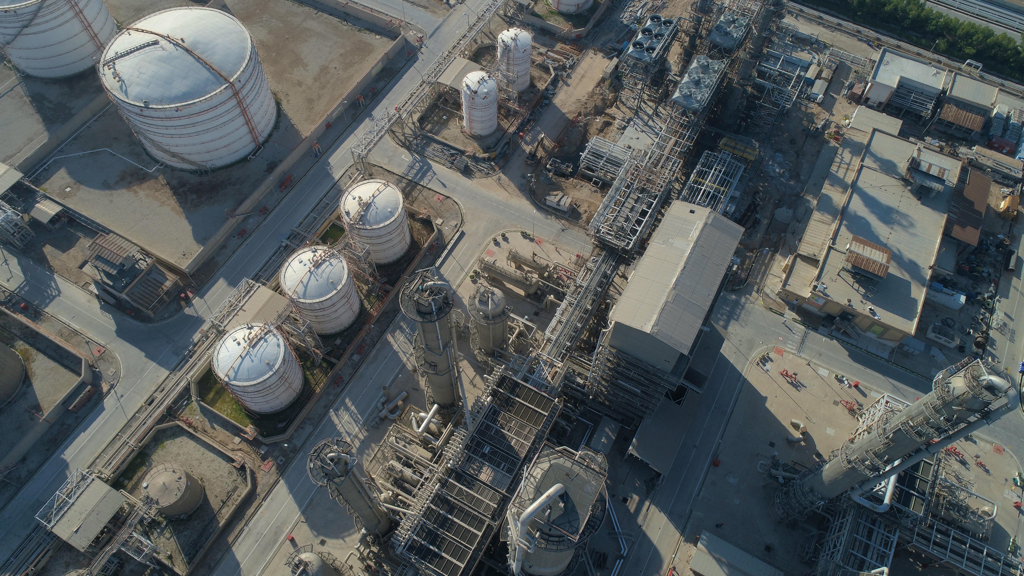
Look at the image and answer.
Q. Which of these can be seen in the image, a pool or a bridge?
bridge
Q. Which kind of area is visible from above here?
industrial area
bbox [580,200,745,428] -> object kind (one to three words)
shed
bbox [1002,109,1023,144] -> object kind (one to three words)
building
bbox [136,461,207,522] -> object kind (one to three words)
storage tank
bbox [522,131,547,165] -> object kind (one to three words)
work vehicle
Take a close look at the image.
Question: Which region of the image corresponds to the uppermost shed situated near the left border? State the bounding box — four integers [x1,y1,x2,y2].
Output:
[0,161,29,202]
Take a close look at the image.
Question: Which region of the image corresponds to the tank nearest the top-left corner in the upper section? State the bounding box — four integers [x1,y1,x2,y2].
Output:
[0,0,118,78]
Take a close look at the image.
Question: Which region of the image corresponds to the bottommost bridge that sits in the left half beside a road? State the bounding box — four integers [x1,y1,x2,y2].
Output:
[350,107,406,177]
